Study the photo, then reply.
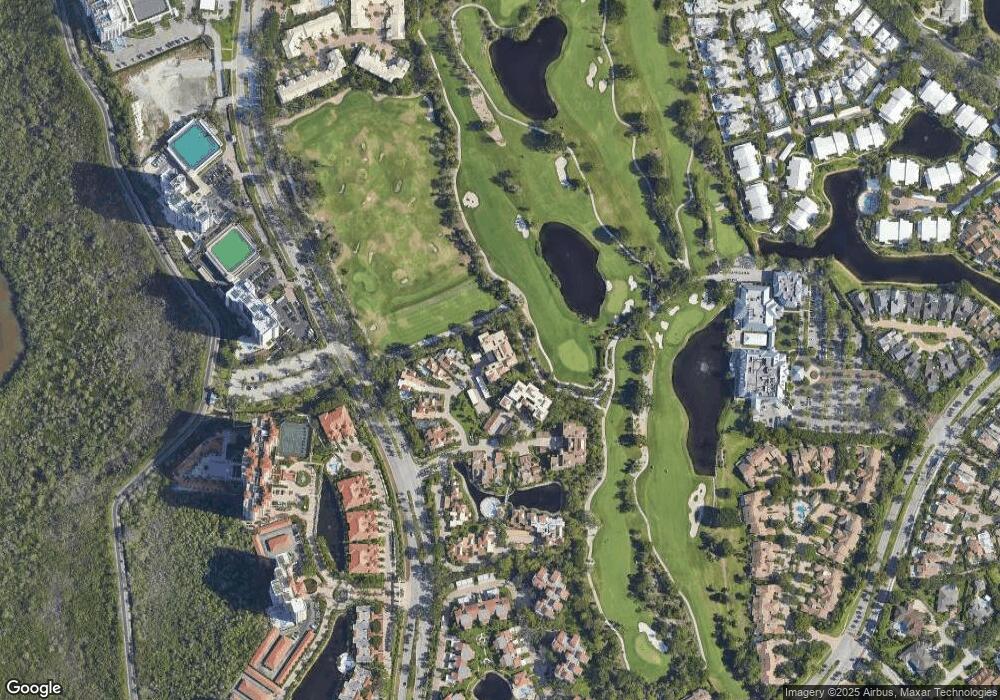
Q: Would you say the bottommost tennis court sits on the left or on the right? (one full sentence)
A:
You can find the bottommost tennis court on the left side of the picture.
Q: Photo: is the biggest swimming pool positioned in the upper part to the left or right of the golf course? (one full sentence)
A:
Looking at the photo, the biggest swimming pool positioned in the upper part lies to the right of the golf course.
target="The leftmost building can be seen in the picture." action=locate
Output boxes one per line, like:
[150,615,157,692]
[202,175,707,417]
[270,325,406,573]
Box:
[84,0,130,44]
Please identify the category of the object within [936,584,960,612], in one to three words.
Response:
house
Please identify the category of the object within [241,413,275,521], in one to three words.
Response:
building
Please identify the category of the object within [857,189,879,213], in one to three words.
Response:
swimming pool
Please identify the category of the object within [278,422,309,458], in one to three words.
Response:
tennis court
